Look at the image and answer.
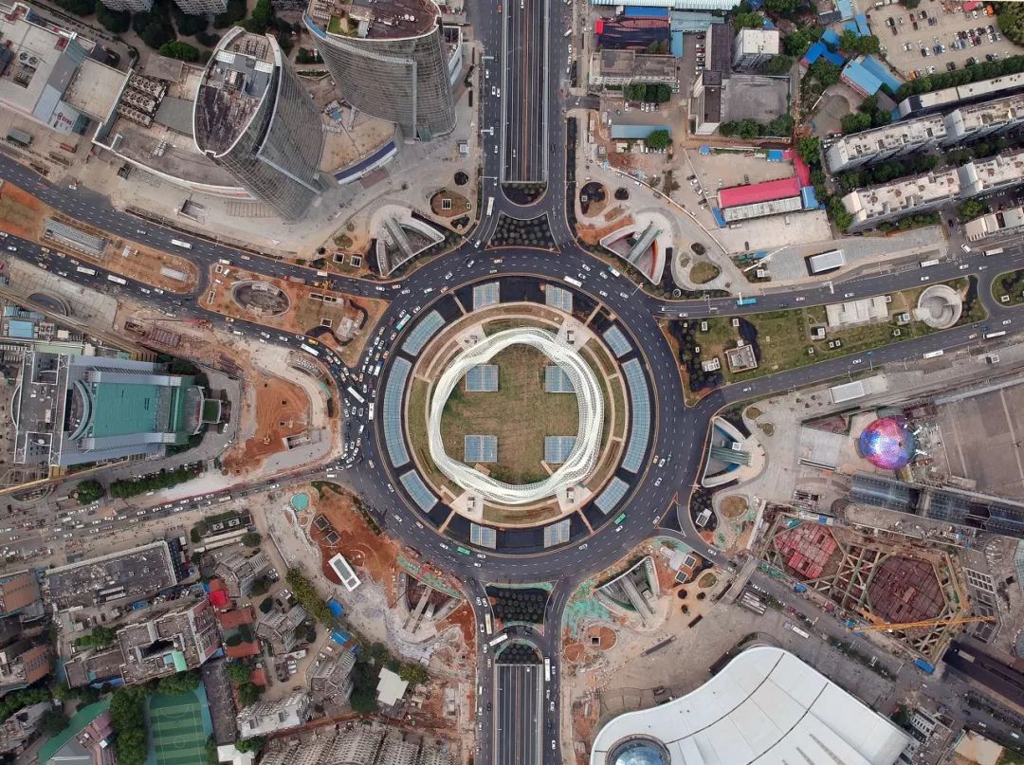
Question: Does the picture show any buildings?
Yes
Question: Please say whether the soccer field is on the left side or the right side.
left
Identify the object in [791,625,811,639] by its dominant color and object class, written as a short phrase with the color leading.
white vehicle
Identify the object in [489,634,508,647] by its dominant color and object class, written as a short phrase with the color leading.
white vehicle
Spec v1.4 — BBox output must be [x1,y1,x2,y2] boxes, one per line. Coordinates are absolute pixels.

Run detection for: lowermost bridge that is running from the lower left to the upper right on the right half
[722,557,759,603]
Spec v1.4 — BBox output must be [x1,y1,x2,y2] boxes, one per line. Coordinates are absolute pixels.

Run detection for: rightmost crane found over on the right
[841,609,995,635]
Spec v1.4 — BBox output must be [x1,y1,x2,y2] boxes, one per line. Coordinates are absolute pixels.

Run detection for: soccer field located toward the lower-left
[145,685,215,765]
